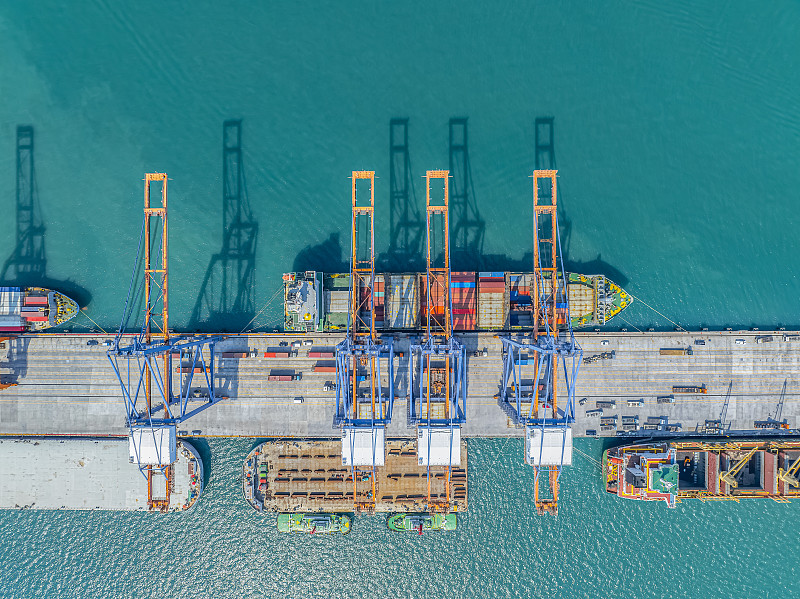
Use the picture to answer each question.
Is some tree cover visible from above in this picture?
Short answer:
No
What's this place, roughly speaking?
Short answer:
port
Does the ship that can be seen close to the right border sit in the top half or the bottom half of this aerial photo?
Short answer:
bottom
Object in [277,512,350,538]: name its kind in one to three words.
boat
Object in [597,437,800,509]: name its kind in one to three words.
ship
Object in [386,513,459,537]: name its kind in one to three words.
boat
